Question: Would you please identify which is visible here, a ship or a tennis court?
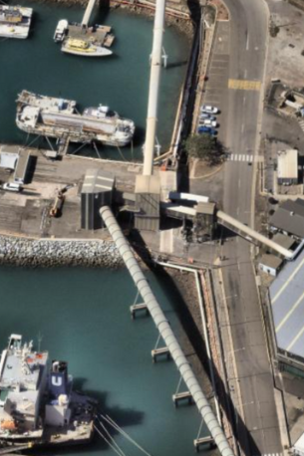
ship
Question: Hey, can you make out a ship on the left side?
Yes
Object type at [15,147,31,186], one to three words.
shed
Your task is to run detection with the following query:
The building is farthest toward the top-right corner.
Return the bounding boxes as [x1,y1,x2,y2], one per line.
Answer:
[277,148,298,186]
